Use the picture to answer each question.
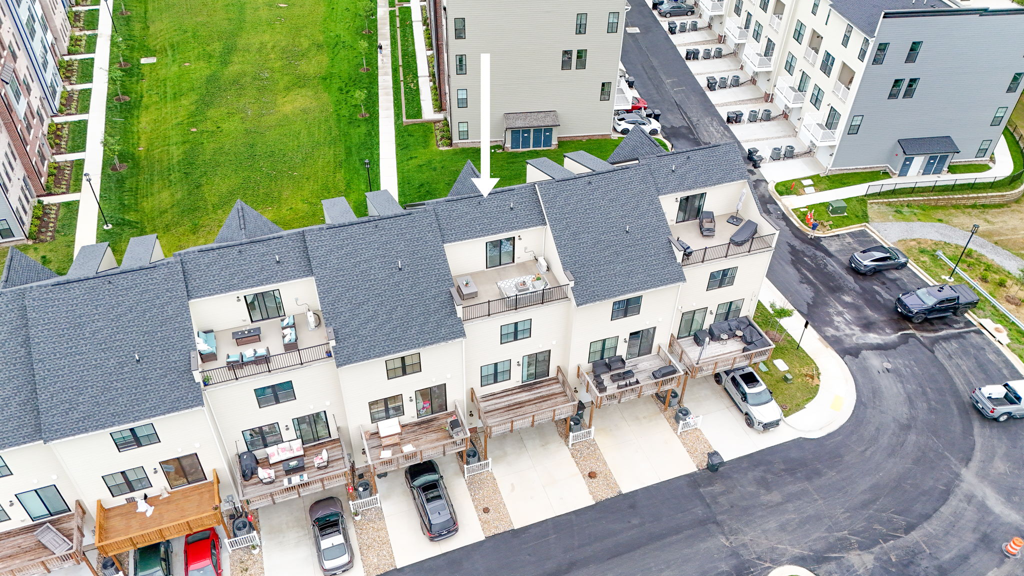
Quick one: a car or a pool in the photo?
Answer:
car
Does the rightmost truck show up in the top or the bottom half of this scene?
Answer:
bottom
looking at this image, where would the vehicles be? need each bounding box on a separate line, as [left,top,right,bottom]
[895,282,980,320]
[618,115,666,135]
[181,529,226,576]
[616,92,654,114]
[713,366,785,433]
[852,243,914,274]
[308,495,352,576]
[407,465,460,542]
[127,545,171,576]
[660,2,696,16]
[968,370,1024,418]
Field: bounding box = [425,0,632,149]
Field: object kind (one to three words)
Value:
building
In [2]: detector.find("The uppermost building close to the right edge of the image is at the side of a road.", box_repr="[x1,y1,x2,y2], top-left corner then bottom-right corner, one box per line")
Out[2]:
[684,0,1024,183]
